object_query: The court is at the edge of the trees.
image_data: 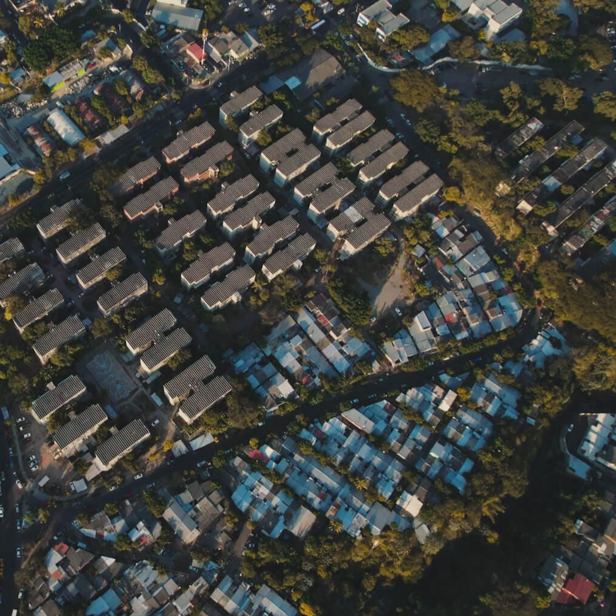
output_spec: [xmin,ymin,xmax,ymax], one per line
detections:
[79,352,124,397]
